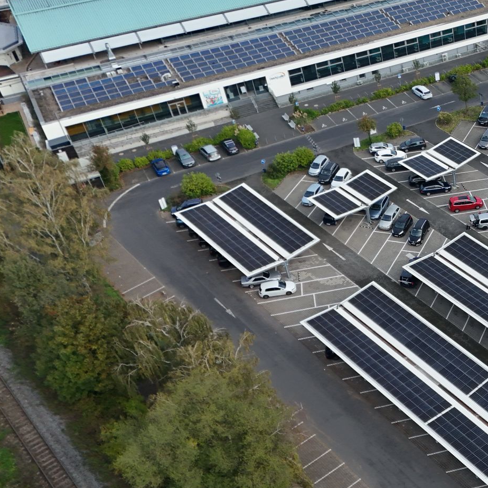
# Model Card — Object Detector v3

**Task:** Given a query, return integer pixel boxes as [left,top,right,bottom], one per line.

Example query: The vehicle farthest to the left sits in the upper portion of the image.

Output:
[151,158,171,177]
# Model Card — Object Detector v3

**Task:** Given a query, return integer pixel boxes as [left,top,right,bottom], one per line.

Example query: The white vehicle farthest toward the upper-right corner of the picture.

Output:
[411,86,432,101]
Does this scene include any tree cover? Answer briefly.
Yes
